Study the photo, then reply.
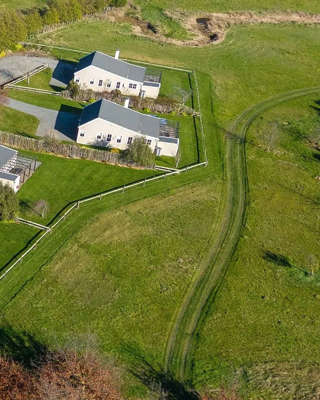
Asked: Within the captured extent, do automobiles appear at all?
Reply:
No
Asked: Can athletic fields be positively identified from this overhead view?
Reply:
No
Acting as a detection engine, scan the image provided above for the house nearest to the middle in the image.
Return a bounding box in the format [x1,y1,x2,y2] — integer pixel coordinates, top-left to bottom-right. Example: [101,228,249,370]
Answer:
[76,93,179,156]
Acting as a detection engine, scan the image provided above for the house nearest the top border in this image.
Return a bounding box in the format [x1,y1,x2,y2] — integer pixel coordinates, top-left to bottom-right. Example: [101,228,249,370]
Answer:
[73,45,163,98]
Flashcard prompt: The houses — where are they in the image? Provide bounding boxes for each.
[0,145,39,192]
[76,93,179,156]
[73,45,163,98]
